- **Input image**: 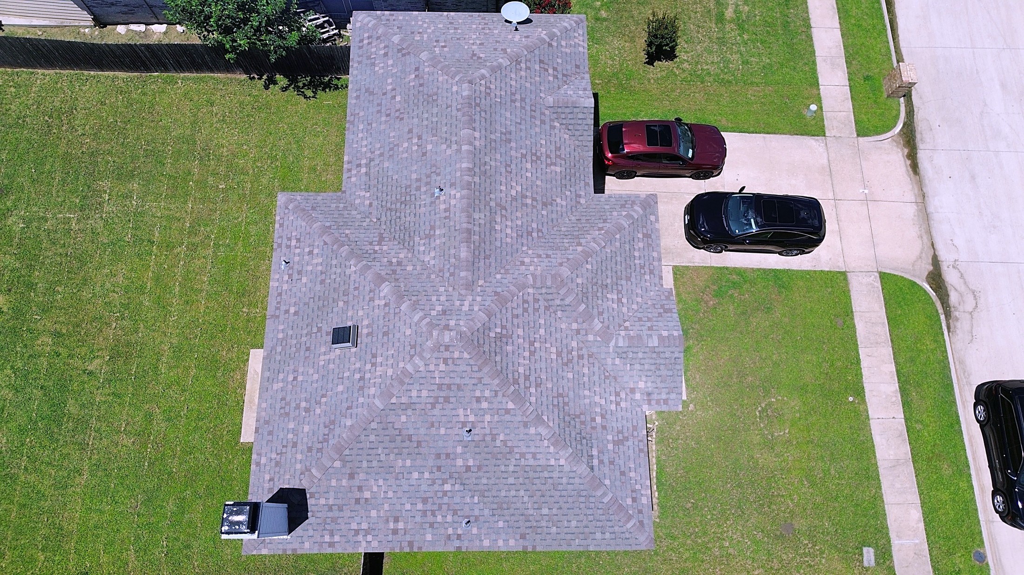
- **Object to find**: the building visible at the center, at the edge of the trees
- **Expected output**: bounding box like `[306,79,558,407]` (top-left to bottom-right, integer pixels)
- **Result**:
[219,10,686,554]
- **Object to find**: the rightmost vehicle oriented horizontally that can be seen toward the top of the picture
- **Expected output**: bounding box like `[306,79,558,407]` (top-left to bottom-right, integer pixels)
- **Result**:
[681,188,827,255]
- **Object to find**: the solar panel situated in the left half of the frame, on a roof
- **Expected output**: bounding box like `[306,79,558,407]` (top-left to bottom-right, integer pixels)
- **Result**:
[331,321,350,345]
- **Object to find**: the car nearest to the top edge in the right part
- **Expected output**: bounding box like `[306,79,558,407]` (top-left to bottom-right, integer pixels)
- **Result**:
[598,115,728,179]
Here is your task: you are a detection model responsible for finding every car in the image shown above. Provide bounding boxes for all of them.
[681,188,827,255]
[973,380,1024,532]
[598,115,728,179]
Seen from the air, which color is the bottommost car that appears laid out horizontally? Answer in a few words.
black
